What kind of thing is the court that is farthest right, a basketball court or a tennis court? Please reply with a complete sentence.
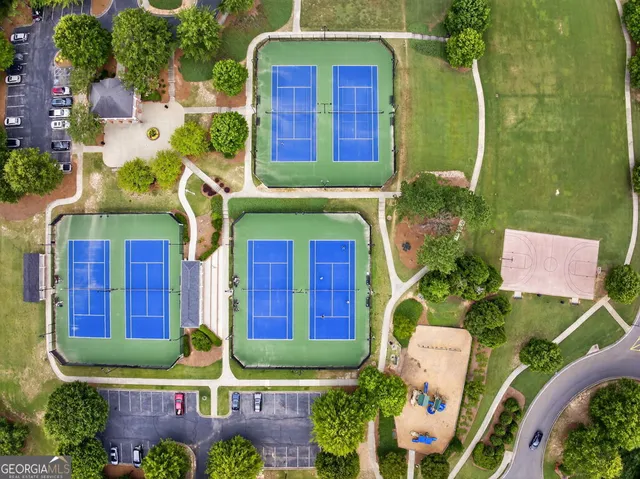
I'd say the court that is farthest right is a basketball court.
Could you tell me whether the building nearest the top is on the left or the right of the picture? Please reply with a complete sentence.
It is on the left.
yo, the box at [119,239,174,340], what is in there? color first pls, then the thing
blue tennis court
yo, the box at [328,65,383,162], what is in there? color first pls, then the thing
blue tennis court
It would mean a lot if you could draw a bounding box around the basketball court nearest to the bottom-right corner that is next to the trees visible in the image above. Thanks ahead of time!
[500,229,599,299]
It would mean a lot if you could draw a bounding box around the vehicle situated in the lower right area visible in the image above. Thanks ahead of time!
[530,431,546,451]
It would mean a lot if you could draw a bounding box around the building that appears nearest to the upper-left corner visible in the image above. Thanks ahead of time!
[91,74,141,123]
